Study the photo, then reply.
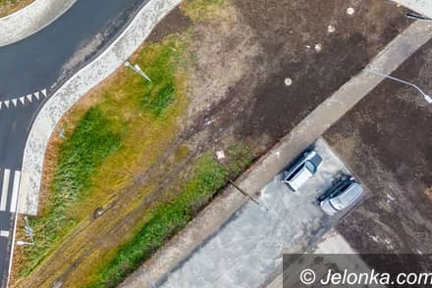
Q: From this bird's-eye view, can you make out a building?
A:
No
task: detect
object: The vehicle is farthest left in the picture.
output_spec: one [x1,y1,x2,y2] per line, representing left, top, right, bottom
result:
[278,152,320,195]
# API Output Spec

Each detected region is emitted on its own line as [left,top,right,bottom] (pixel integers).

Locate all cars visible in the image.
[278,152,320,195]
[317,173,363,213]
